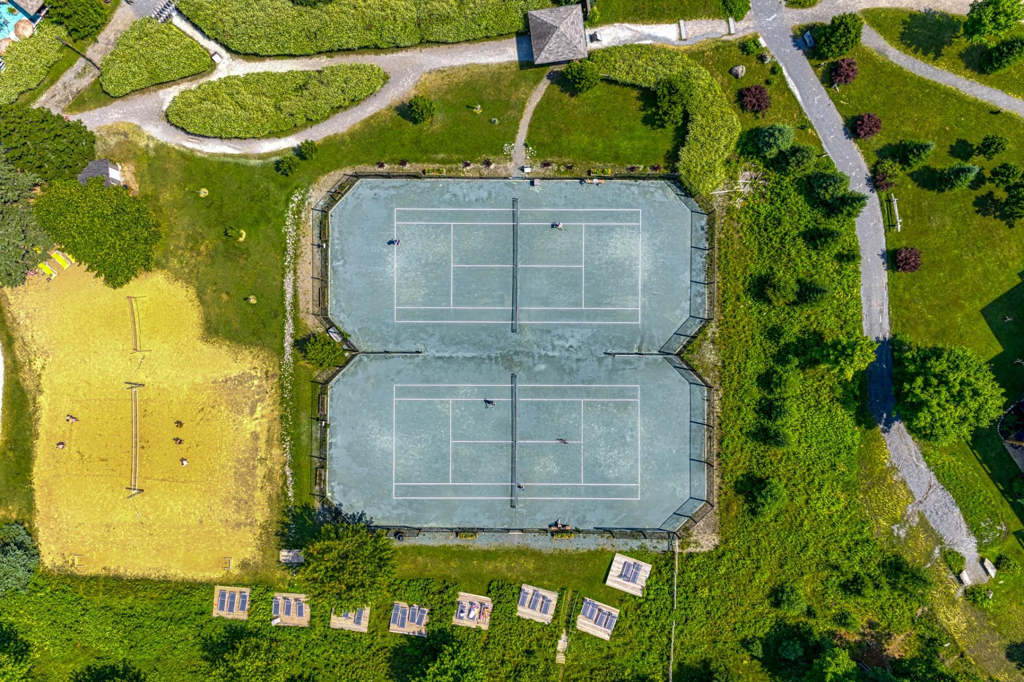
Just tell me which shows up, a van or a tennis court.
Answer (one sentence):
Visible in the photo is a tennis court.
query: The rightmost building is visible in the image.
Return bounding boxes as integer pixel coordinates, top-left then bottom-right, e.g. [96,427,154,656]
[528,3,587,70]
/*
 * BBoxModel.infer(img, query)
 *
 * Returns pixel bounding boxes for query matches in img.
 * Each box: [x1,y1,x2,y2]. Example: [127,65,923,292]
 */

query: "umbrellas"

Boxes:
[0,36,17,59]
[14,18,39,41]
